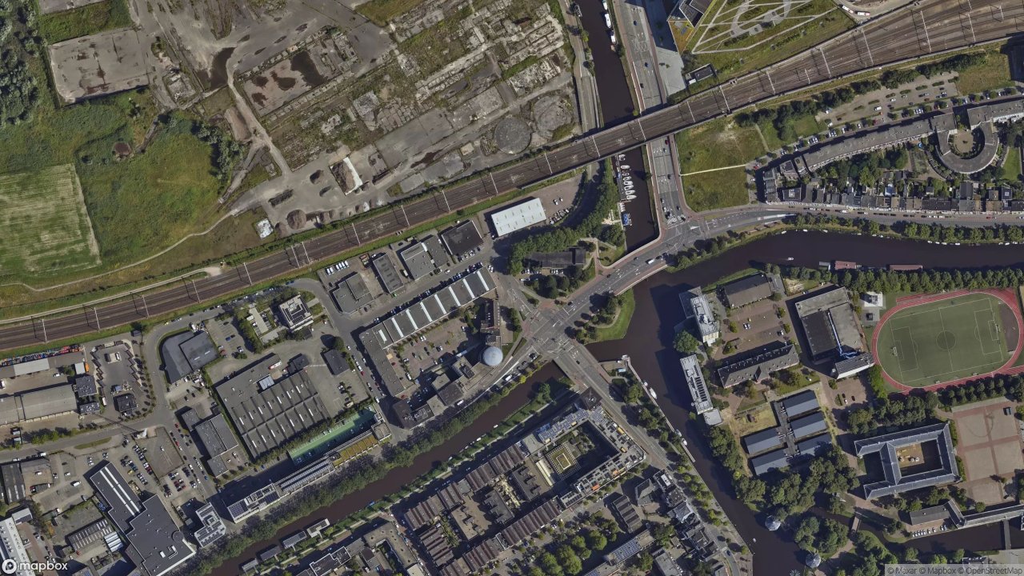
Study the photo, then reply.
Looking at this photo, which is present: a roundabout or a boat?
boat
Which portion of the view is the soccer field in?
right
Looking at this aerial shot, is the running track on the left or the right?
right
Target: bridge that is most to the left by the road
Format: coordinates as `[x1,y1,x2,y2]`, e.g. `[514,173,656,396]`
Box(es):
[546,342,608,401]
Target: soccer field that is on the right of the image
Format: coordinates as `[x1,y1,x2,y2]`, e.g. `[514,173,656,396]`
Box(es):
[864,281,1024,397]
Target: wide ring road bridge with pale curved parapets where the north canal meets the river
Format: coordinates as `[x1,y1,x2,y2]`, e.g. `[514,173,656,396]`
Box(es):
[606,210,672,296]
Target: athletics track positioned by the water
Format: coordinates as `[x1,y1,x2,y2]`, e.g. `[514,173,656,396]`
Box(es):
[872,288,1024,391]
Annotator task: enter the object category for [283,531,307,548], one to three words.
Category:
boat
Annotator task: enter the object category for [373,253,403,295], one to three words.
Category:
building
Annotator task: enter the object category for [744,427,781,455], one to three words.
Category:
shed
